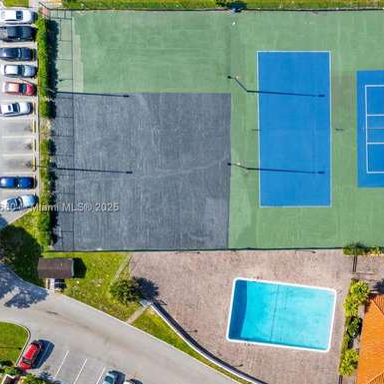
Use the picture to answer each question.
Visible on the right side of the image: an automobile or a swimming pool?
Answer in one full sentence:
The feature located on the right side of the image is a swimming pool.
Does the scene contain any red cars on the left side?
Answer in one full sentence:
Yes, a red car can be seen on the left side.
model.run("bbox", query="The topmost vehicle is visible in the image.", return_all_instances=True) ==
[0,7,36,24]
